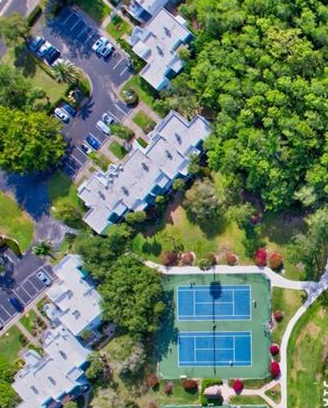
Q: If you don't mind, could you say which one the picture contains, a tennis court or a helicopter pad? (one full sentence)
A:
Visible in the photo is a tennis court.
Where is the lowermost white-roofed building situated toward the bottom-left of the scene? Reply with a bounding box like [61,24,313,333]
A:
[11,325,101,408]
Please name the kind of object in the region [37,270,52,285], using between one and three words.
car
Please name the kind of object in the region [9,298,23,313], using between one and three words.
car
